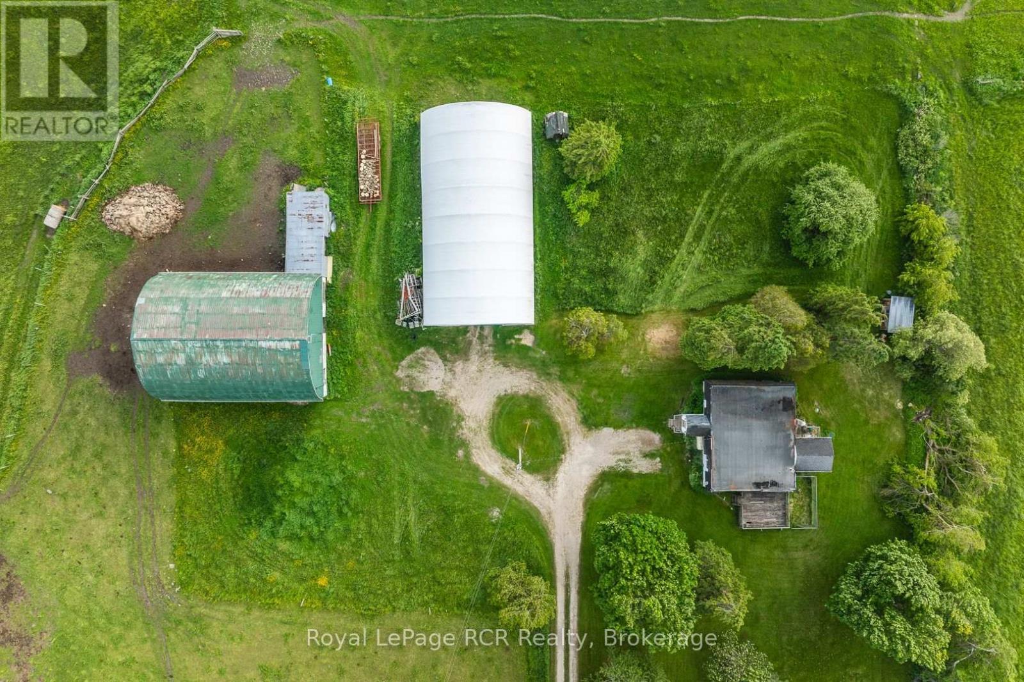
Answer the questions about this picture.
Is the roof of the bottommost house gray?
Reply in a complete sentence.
Yes, gray is the color of the roof of the bottommost house.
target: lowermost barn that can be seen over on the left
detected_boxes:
[130,272,328,403]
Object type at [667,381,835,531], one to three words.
house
